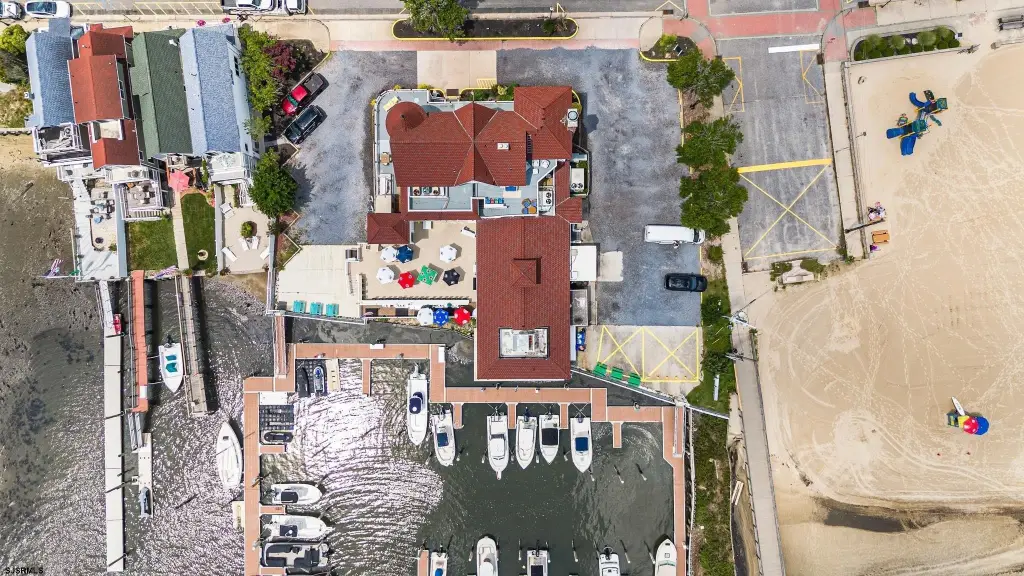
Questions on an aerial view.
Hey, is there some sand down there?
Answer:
Yes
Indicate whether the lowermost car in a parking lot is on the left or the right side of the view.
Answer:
right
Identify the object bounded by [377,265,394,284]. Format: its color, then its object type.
white umbrella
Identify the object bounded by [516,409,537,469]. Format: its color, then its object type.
white boat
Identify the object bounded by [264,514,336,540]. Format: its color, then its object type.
white boat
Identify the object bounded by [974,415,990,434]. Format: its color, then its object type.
blue umbrella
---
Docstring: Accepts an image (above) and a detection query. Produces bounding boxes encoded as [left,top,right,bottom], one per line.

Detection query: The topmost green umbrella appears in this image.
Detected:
[417,264,439,285]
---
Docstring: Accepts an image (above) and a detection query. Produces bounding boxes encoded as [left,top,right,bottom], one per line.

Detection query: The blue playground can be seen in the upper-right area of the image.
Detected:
[887,91,954,156]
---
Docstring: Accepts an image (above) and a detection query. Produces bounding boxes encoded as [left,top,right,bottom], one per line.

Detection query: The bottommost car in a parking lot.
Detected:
[663,272,705,292]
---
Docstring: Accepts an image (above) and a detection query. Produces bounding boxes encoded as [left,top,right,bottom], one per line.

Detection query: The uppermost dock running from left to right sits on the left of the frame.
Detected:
[296,344,430,359]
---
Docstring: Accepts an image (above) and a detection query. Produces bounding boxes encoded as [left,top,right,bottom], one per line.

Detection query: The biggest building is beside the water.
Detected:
[367,86,582,383]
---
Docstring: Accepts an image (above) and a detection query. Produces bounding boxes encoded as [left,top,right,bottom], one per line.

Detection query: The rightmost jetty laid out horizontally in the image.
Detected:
[608,405,662,422]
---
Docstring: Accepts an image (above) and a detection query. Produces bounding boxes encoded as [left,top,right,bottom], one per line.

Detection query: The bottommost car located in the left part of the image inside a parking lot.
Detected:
[286,106,327,144]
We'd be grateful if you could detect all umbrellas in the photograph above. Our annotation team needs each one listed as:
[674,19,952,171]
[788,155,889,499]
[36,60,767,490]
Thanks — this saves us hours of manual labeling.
[443,268,460,286]
[168,170,191,193]
[439,245,457,262]
[417,307,434,326]
[396,245,414,261]
[398,271,415,288]
[974,415,990,434]
[380,245,397,263]
[433,308,449,325]
[417,264,439,285]
[962,417,977,431]
[453,308,470,324]
[377,265,394,284]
